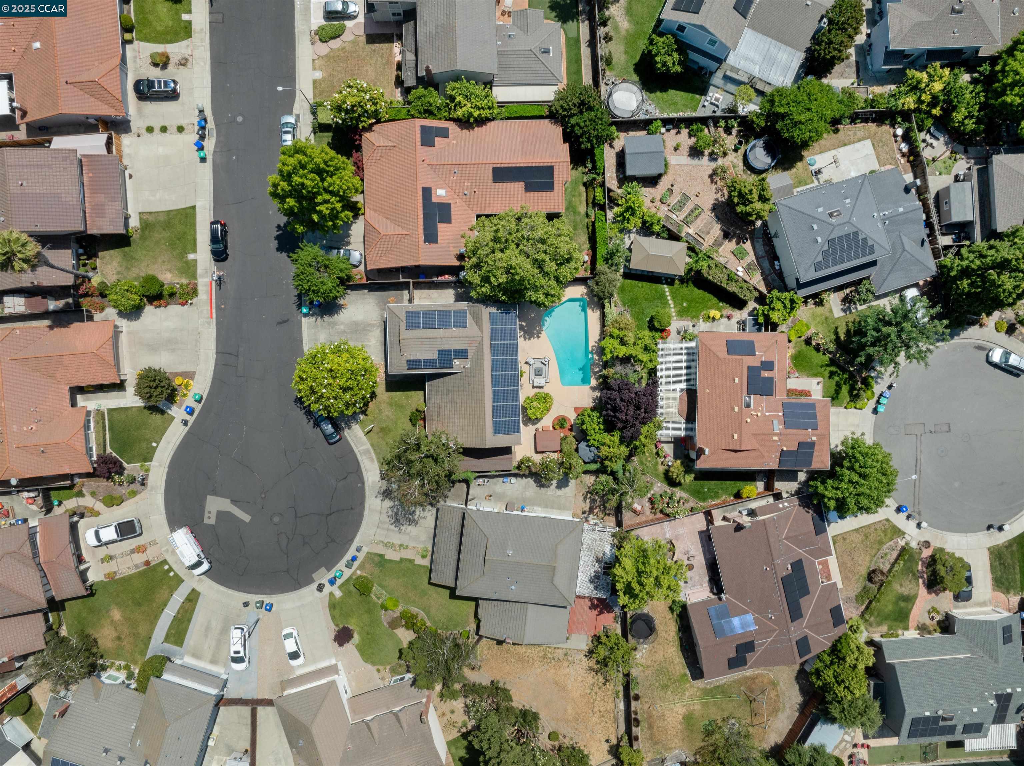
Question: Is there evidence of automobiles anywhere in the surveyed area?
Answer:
Yes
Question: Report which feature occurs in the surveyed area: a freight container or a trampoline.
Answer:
trampoline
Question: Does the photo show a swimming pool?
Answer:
Yes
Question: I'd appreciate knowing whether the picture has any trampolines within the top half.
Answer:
Yes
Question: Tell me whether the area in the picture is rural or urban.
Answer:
urban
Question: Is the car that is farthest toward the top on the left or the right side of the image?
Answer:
left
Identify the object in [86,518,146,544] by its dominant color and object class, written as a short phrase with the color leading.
white truck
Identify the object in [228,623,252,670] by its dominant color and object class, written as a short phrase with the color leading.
white car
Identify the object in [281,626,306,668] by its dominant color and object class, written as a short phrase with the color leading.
white car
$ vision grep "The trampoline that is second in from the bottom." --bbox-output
[744,136,780,169]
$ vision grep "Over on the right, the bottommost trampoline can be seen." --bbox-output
[629,615,658,644]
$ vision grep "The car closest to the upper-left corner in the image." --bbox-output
[135,77,183,101]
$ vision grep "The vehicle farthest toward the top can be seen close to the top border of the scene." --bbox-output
[322,0,364,22]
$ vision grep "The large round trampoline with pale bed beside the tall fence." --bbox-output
[607,76,646,118]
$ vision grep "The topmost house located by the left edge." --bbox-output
[0,0,134,128]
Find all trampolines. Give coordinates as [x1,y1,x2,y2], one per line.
[744,136,780,169]
[607,76,646,118]
[629,615,658,644]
